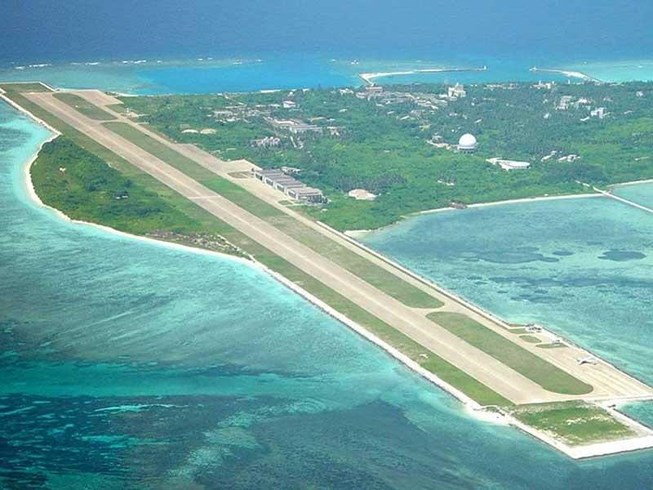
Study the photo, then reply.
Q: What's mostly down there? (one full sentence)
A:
The bulk of the photo consists of water.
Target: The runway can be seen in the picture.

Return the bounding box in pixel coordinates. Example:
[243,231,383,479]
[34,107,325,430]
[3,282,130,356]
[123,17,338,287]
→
[20,91,562,405]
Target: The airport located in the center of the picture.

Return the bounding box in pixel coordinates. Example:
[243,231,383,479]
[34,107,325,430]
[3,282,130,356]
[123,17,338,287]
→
[20,89,653,444]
